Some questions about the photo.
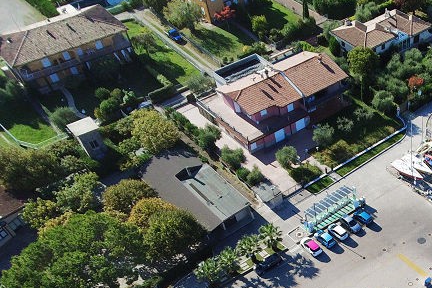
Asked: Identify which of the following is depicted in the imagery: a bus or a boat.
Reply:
boat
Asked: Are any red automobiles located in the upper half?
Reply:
No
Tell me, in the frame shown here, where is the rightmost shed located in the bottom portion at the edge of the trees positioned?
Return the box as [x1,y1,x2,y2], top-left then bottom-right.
[251,181,285,215]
